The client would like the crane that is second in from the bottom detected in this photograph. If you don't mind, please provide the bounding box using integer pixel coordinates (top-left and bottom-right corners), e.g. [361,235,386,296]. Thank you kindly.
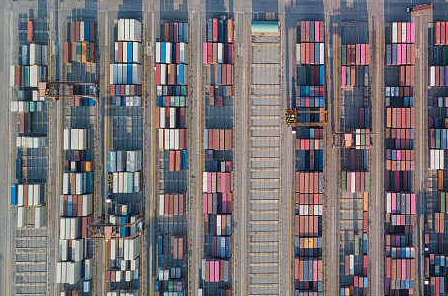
[331,127,376,149]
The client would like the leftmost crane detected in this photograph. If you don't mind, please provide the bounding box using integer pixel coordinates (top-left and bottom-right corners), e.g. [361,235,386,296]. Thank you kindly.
[34,79,99,100]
